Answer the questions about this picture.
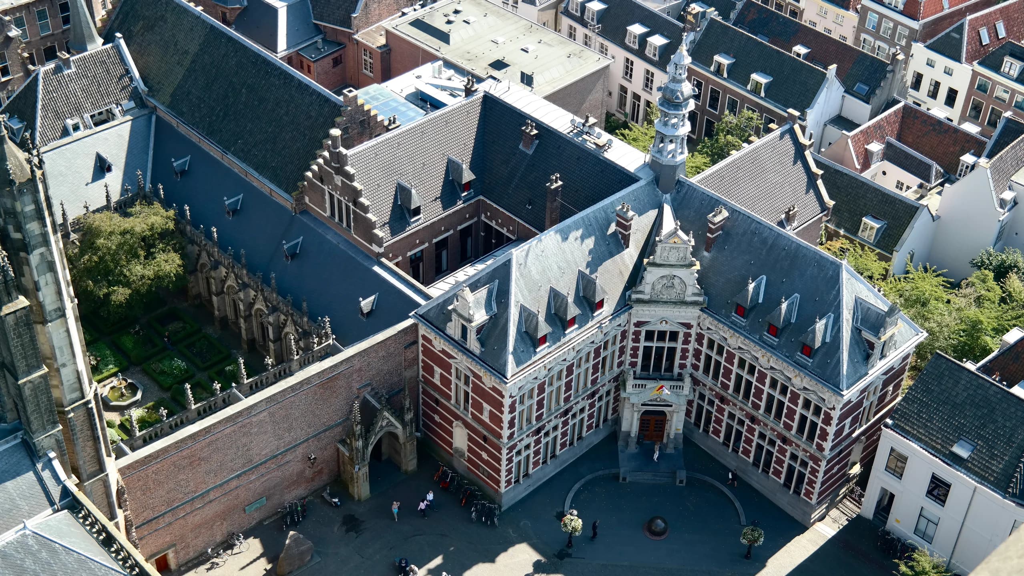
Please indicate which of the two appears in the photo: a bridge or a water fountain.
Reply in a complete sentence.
The image shows a water fountain.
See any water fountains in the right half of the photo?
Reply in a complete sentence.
No, looking in the right half of the photo, there is no water fountain.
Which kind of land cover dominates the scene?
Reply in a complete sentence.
Most of the picture is covered by buildings.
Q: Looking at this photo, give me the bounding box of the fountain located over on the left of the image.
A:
[104,374,146,413]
